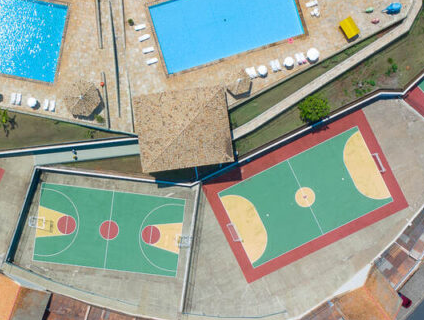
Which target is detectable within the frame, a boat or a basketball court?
basketball court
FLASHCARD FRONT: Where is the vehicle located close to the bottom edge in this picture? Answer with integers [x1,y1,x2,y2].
[397,290,412,310]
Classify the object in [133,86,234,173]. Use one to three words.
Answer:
building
